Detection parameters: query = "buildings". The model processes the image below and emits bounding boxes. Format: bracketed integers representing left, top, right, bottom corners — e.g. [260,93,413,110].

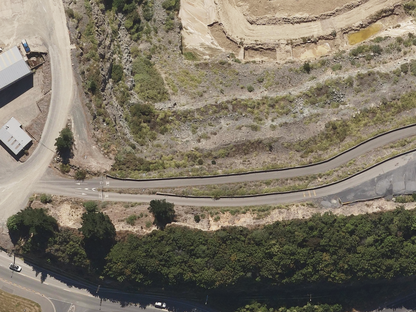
[0,44,32,88]
[0,116,34,154]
